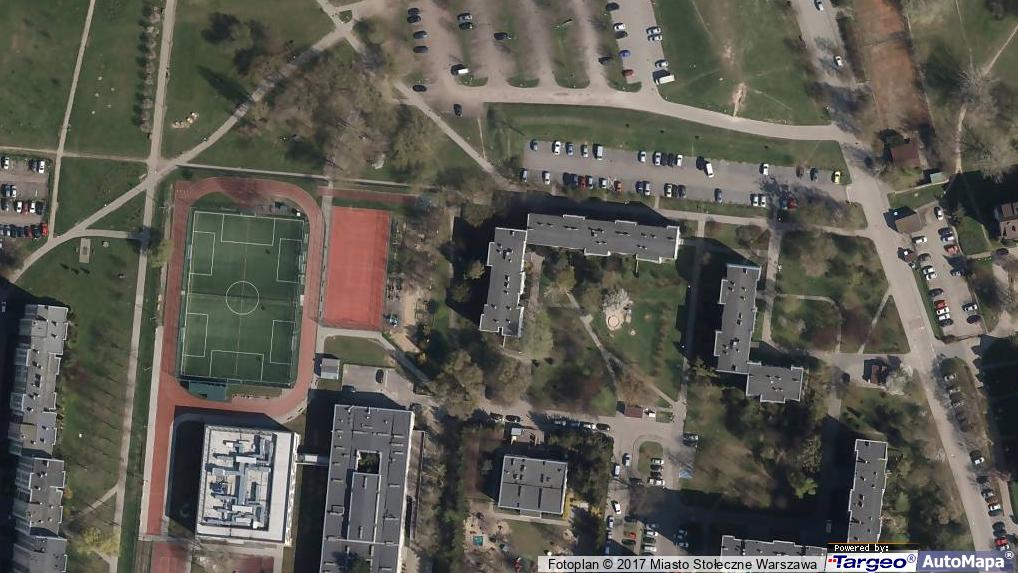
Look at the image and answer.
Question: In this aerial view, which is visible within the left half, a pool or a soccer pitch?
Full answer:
You can see a soccer pitch within the left half.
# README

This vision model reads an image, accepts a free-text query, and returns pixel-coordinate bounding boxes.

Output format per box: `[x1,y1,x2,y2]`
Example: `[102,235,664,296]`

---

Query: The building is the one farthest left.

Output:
[8,305,72,573]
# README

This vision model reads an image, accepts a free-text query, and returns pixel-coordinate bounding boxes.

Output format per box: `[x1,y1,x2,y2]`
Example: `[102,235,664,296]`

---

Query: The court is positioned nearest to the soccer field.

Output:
[323,207,390,330]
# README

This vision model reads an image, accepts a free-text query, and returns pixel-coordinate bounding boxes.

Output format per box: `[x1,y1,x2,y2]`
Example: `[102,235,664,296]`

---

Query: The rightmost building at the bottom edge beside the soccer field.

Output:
[319,404,415,573]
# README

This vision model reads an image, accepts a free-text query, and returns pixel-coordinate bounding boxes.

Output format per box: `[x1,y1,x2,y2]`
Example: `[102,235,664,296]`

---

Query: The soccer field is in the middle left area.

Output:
[177,208,308,385]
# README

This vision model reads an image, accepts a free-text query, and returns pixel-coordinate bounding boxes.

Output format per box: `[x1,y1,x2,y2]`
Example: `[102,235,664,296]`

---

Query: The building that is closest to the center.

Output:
[480,228,529,338]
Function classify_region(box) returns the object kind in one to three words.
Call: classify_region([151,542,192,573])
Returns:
sports court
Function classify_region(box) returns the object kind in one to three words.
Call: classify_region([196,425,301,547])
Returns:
building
